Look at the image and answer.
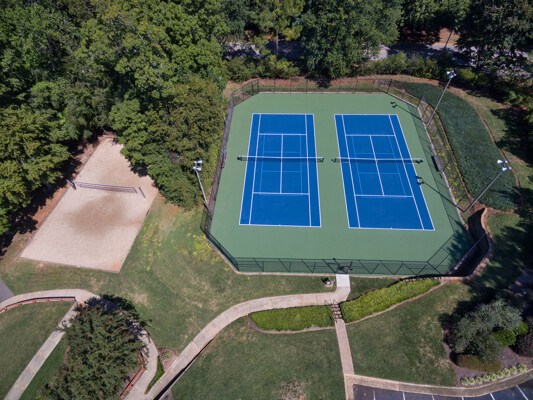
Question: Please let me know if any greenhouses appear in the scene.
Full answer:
No, no greenhouse is visible in the view.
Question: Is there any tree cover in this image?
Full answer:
Yes, there is tree cover in the image.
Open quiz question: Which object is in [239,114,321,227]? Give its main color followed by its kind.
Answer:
blue tennis court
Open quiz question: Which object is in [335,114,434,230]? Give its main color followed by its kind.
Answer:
blue tennis court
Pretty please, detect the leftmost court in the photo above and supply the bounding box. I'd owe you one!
[20,134,176,272]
